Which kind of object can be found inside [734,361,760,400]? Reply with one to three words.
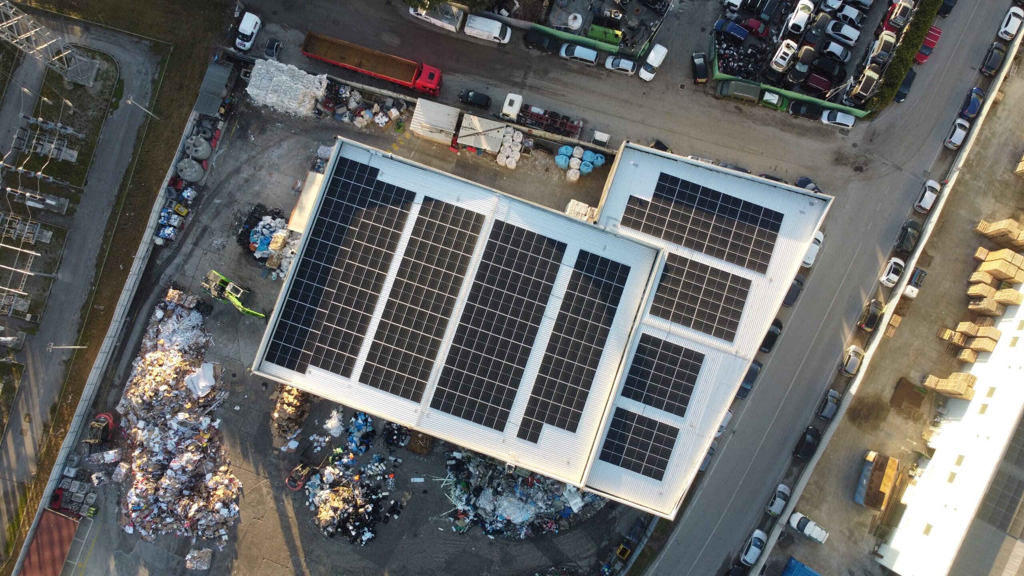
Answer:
car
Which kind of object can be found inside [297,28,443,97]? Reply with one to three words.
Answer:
truck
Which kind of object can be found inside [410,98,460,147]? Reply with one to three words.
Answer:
shed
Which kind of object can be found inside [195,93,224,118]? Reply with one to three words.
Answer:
shed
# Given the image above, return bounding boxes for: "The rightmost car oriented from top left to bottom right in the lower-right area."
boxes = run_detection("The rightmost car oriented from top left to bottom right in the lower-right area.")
[788,510,828,544]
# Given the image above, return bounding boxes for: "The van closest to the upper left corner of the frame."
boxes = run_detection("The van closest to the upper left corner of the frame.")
[236,11,264,51]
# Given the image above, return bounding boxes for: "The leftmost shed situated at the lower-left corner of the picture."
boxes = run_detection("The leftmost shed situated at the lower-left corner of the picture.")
[21,508,84,576]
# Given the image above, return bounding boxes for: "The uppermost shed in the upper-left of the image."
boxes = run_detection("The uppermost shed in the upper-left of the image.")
[200,61,236,100]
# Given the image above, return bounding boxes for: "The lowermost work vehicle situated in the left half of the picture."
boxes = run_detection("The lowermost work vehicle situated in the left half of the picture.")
[288,454,318,487]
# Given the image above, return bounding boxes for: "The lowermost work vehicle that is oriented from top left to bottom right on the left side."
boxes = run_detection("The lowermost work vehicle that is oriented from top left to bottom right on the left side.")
[197,267,274,324]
